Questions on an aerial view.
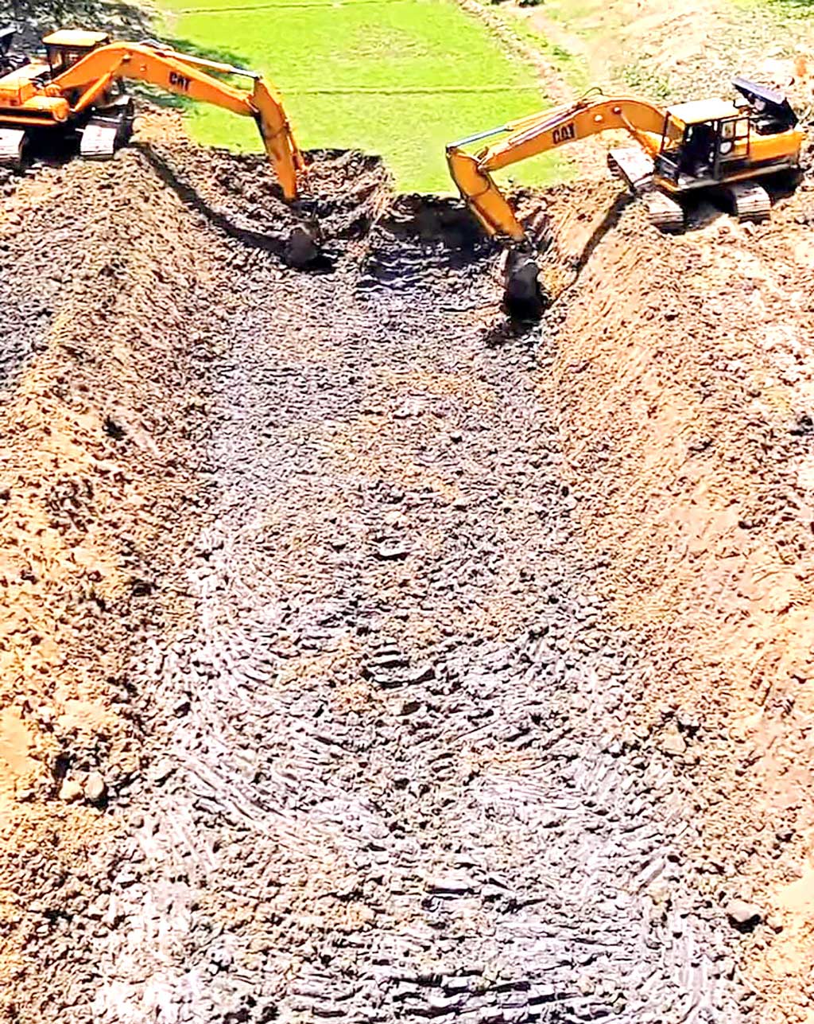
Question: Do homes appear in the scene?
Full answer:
No, this view has no home in it.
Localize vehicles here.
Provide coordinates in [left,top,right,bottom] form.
[0,19,325,260]
[443,73,801,316]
